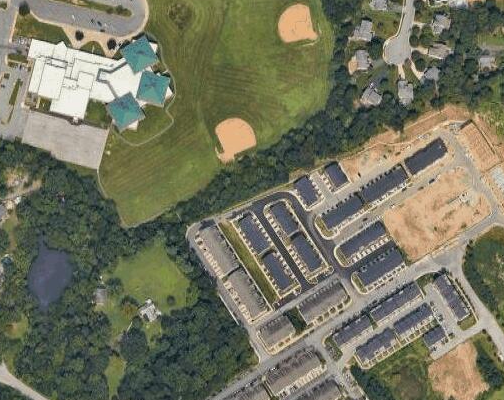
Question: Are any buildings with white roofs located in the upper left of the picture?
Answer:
Yes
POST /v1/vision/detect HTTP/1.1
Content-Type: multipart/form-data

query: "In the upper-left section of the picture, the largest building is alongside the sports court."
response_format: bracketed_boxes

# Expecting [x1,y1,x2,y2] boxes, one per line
[27,36,173,130]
